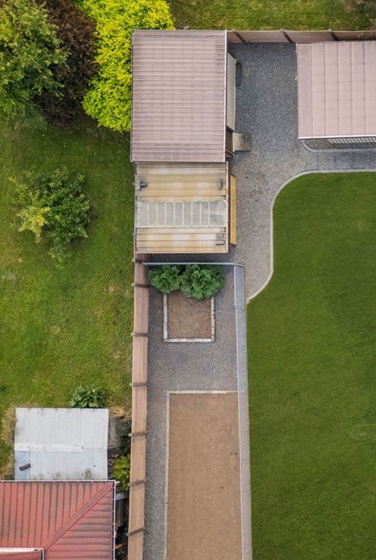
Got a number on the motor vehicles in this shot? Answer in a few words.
0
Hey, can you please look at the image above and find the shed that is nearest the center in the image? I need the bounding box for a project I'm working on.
[134,161,236,254]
